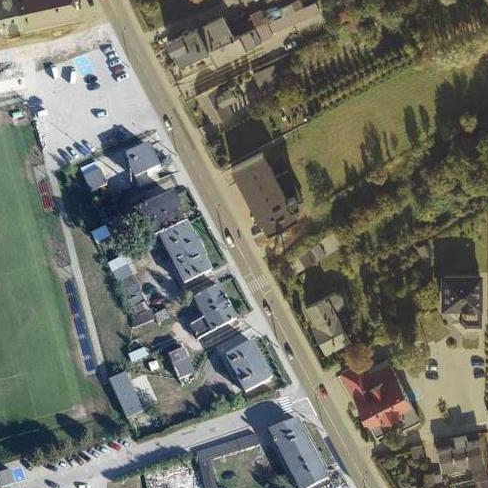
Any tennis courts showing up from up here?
No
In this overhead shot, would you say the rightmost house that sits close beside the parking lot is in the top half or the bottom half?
bottom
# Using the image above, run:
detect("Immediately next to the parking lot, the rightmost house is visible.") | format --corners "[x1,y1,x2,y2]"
[340,363,413,431]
